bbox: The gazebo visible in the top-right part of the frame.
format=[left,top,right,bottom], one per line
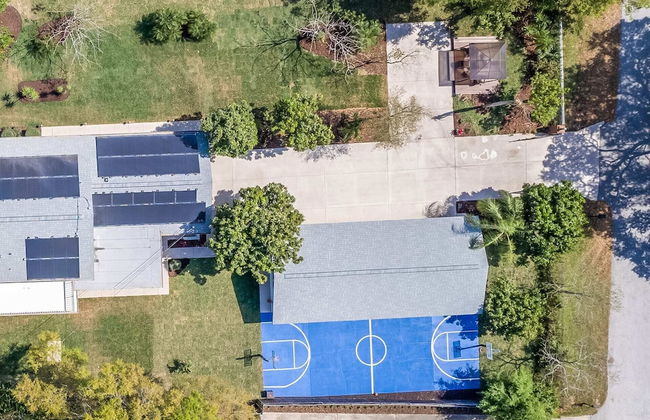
[463,43,508,86]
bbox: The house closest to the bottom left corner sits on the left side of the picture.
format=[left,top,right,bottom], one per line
[0,132,214,317]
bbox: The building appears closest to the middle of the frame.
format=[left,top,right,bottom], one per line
[273,215,489,324]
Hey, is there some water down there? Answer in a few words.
No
